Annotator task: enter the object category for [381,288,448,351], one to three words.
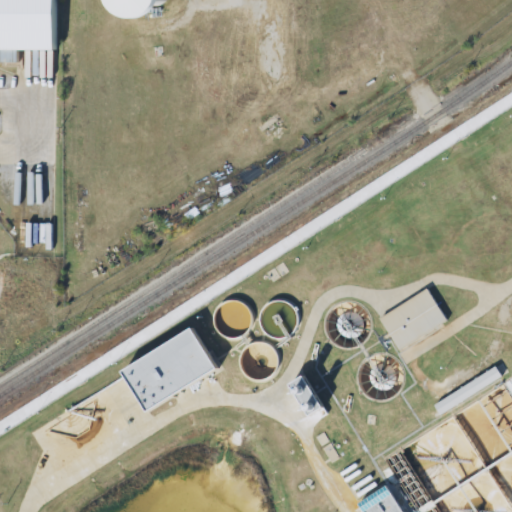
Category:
shed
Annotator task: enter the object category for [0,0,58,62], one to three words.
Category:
building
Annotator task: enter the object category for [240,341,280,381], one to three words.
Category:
storage tank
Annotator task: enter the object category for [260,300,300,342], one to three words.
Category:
storage tank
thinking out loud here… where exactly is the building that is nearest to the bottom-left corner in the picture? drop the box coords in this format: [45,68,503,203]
[120,328,218,410]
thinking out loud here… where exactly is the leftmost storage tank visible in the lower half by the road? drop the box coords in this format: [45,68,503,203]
[214,300,254,340]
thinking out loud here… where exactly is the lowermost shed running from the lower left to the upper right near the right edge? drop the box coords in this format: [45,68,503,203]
[434,368,502,420]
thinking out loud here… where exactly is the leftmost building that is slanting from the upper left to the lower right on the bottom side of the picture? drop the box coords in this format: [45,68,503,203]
[289,375,330,416]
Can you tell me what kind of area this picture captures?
industrial area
